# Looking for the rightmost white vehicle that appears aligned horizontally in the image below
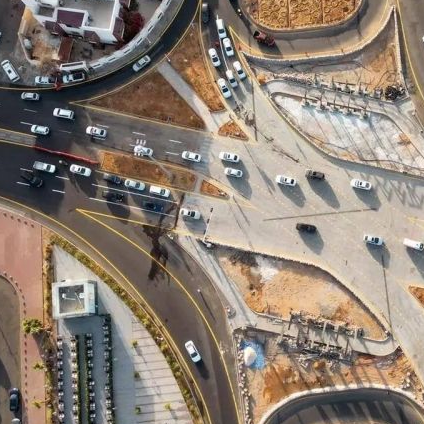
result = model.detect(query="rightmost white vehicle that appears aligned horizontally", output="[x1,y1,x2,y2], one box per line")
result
[402,237,424,251]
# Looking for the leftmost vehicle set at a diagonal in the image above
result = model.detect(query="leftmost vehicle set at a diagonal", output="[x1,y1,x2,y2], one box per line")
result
[0,60,18,81]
